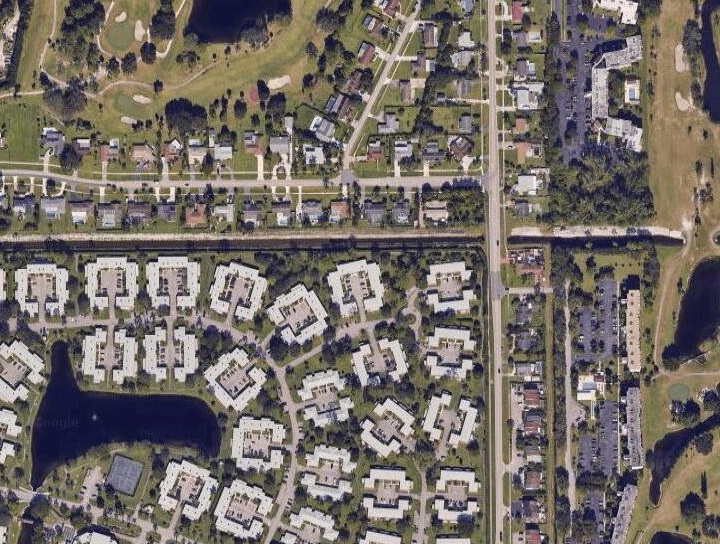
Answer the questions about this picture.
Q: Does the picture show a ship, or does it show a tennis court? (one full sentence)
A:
Visible in the photo is a tennis court.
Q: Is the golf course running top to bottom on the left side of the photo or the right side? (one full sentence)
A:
The golf course running top to bottom appears in the right half of the scene.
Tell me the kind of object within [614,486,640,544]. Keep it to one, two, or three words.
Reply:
building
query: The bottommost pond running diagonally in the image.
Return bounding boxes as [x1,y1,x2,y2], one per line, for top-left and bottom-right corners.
[650,416,720,506]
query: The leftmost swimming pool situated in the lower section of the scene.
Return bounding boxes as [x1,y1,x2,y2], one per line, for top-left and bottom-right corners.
[578,376,606,399]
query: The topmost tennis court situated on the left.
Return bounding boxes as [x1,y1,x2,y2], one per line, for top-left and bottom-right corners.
[106,455,144,495]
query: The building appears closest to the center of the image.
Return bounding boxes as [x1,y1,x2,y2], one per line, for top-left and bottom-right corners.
[327,260,384,316]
